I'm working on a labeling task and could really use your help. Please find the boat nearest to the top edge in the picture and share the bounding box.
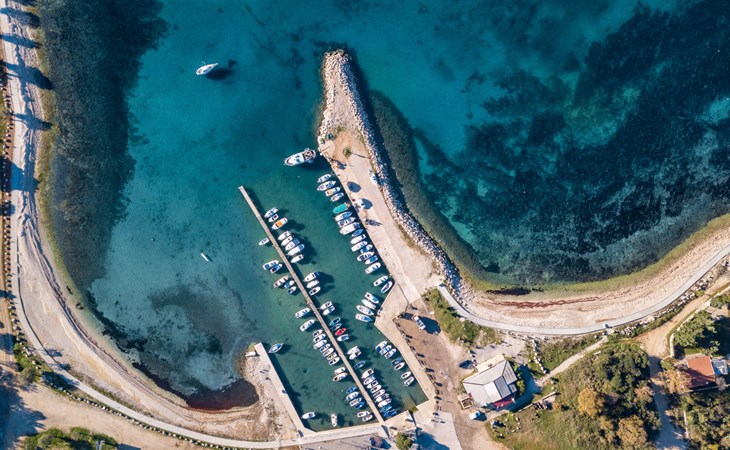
[195,59,217,76]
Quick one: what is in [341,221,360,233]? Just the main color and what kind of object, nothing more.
white boat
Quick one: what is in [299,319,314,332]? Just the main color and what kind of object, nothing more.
white boat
